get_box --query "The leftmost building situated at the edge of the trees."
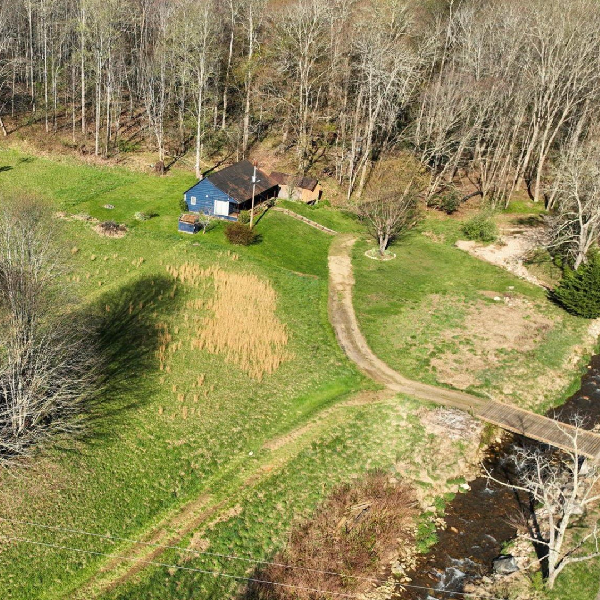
[183,159,275,222]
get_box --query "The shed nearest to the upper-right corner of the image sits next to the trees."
[277,172,329,205]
